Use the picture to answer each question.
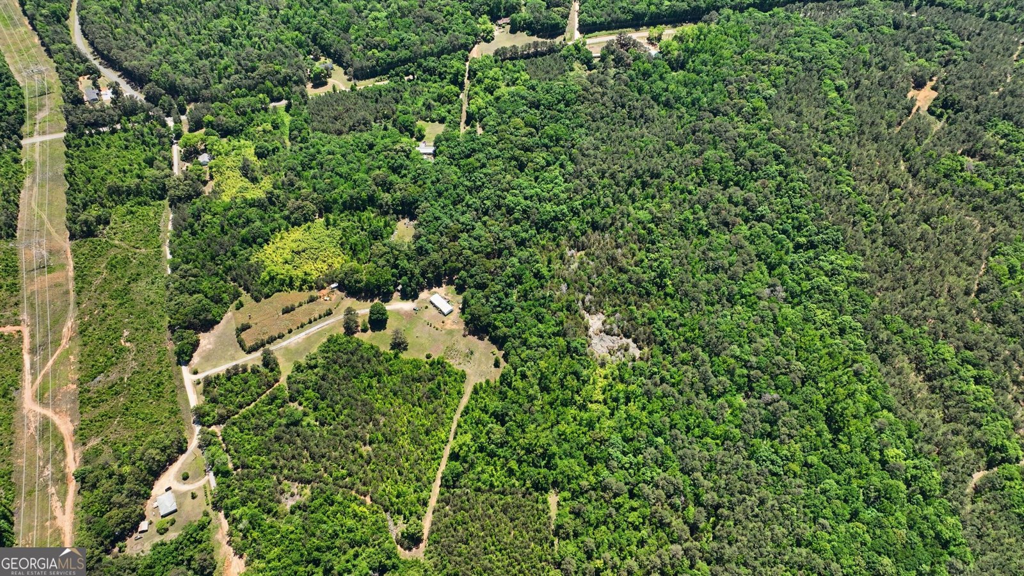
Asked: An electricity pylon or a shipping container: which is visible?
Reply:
electricity pylon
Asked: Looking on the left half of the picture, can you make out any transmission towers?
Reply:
Yes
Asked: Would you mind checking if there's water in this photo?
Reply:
No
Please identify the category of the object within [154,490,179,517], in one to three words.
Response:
house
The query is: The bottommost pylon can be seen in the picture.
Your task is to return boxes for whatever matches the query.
[14,242,53,268]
